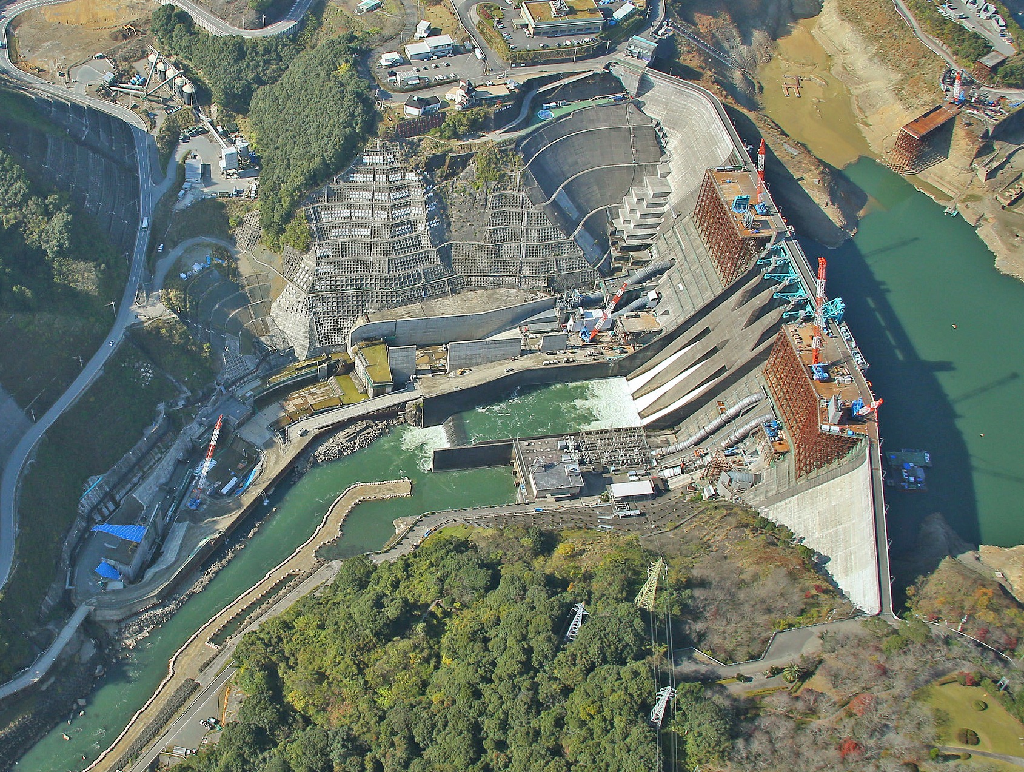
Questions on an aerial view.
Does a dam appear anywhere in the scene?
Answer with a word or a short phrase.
Yes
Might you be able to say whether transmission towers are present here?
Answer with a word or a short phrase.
Yes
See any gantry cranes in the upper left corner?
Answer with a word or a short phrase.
No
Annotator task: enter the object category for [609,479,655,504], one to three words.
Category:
building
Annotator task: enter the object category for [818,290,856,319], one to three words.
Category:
container crane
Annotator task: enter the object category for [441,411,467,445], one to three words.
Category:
dam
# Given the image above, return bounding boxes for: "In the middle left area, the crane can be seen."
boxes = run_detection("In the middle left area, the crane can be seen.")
[183,416,223,512]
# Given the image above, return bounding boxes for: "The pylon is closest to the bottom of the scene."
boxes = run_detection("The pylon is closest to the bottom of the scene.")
[649,683,682,728]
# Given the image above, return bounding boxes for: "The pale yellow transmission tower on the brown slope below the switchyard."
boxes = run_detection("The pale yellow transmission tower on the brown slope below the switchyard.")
[637,558,672,615]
